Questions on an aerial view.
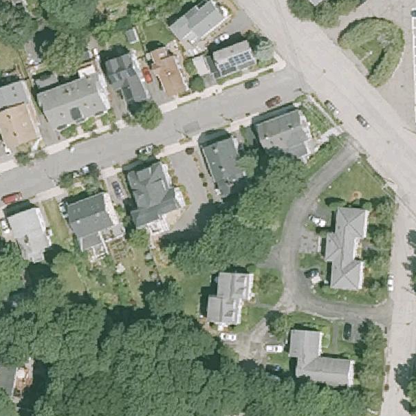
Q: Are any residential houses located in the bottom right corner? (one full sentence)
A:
Yes, the scene does show a residential house in the bottom right corner.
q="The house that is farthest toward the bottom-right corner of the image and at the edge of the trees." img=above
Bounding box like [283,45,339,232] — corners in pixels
[290,330,355,387]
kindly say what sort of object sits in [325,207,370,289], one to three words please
house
